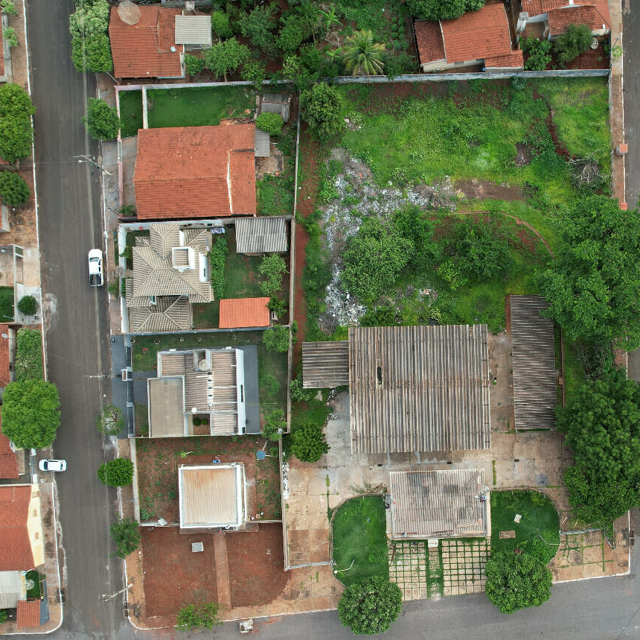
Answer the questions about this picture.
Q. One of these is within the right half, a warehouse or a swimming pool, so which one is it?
warehouse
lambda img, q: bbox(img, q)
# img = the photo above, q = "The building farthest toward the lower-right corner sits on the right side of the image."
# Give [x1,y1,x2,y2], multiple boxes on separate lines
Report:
[386,468,491,547]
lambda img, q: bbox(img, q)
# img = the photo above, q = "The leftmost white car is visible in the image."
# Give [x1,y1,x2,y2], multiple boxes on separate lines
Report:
[40,457,67,472]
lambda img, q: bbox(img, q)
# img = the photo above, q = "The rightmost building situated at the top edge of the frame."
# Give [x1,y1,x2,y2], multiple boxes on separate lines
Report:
[522,0,611,42]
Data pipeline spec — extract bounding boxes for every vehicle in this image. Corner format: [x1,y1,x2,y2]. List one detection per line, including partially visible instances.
[88,249,105,285]
[40,457,67,472]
